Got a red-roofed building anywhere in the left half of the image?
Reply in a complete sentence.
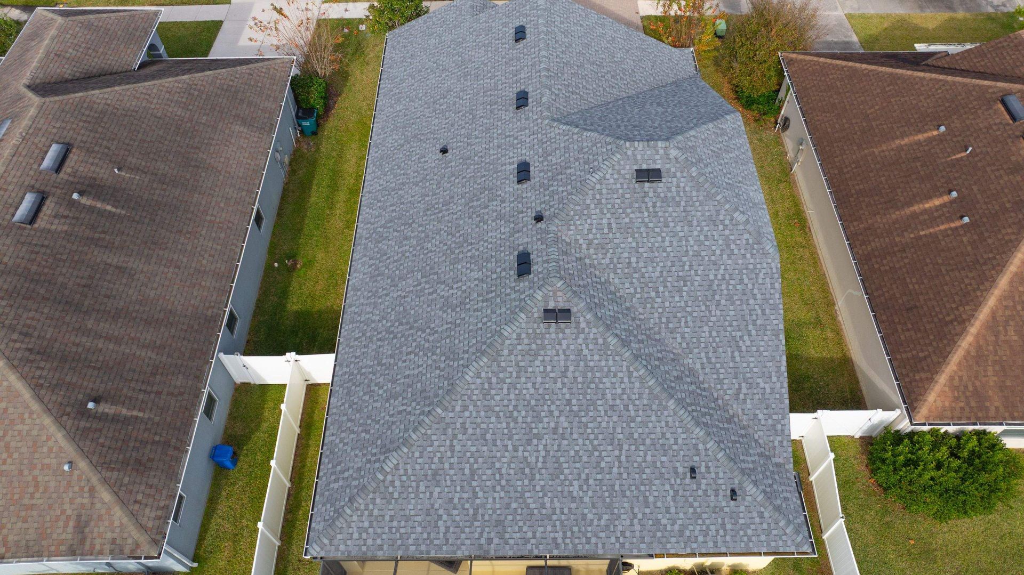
No, I see no red-roofed building in the left half of the image.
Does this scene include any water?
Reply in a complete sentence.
No, the scene doesn't show any water.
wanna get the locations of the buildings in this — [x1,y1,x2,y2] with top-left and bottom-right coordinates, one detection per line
[304,0,814,575]
[773,31,1024,450]
[0,6,300,573]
